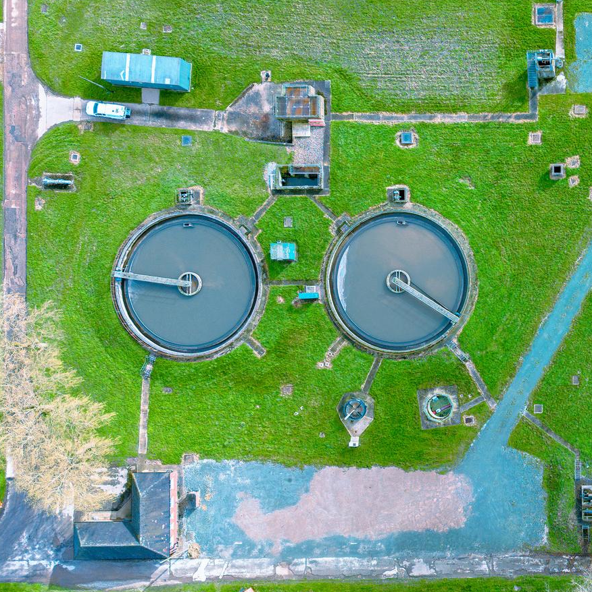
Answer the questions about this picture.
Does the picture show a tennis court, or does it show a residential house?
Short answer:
residential house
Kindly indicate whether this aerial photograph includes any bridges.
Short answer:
Yes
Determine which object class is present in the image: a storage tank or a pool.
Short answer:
storage tank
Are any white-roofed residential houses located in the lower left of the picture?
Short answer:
No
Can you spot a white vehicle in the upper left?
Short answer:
Yes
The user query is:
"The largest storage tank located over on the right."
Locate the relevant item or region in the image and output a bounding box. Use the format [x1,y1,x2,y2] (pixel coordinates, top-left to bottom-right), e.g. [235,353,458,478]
[325,208,470,353]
